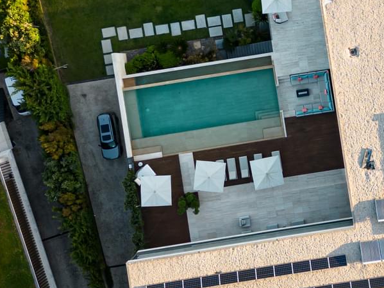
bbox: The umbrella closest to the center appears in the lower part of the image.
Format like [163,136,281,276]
[193,160,227,193]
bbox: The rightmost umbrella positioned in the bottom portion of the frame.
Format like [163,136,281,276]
[249,155,285,191]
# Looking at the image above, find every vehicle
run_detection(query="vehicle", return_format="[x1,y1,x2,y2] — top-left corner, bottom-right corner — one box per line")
[0,72,33,118]
[97,112,122,160]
